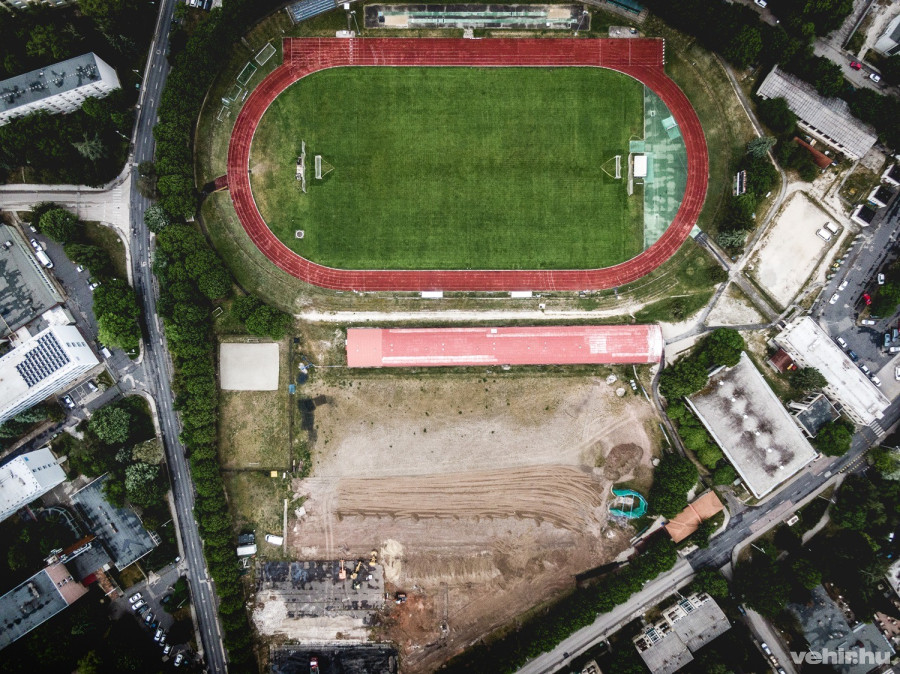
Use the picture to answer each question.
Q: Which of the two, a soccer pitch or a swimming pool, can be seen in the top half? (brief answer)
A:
soccer pitch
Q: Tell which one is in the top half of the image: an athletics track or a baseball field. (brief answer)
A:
athletics track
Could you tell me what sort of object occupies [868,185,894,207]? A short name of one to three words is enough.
house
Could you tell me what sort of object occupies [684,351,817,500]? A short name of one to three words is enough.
building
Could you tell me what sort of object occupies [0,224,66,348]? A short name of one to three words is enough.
building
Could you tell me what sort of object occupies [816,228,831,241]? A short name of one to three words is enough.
vehicle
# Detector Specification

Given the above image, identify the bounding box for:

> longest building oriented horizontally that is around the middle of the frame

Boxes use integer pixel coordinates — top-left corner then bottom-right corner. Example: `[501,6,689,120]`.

[346,324,663,367]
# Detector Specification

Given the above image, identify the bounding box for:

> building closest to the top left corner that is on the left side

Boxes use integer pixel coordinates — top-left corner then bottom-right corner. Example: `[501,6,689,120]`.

[0,52,122,128]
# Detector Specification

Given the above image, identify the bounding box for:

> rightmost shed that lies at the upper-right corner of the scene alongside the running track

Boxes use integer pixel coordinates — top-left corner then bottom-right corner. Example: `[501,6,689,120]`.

[754,66,877,160]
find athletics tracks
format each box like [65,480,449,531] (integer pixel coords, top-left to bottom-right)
[228,38,708,291]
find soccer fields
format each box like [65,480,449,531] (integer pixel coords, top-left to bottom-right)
[249,68,642,270]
